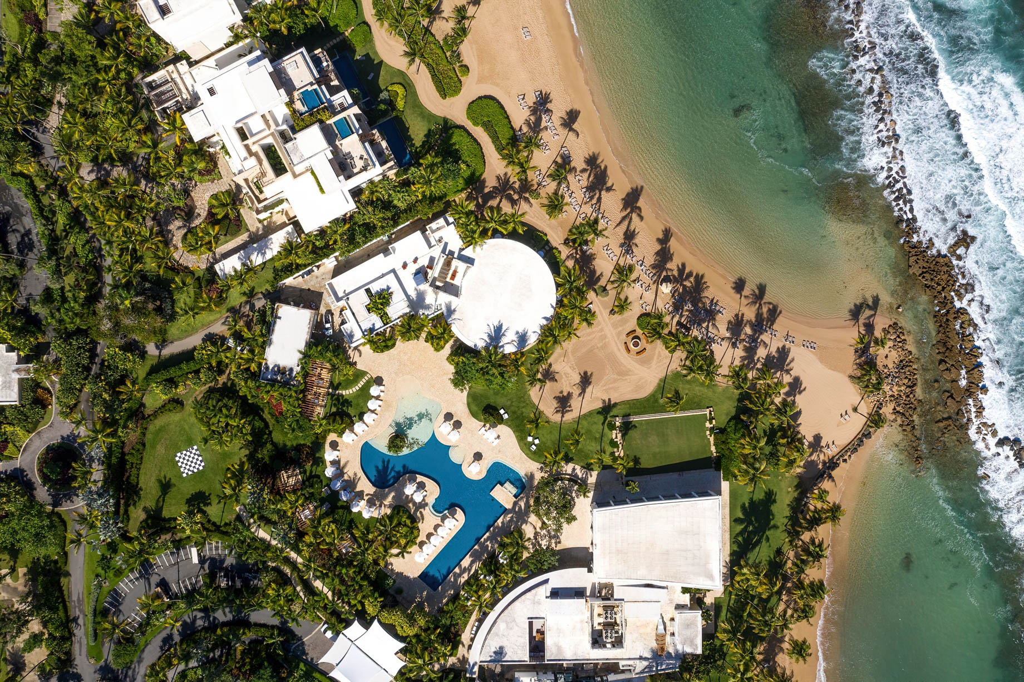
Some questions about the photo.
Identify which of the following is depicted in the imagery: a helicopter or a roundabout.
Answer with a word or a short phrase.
roundabout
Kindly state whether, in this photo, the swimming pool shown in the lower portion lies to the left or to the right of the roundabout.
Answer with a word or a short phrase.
to the right of it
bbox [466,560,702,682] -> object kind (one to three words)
building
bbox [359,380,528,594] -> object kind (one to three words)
swimming pool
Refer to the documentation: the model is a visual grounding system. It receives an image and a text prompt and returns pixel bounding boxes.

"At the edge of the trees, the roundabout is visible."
[18,423,104,509]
